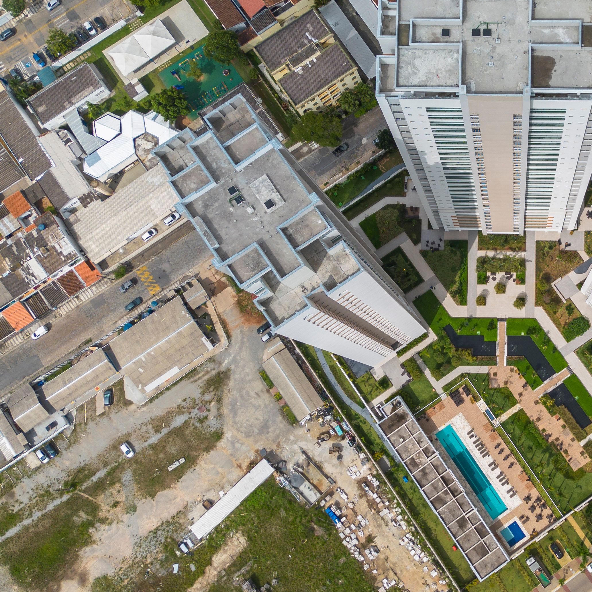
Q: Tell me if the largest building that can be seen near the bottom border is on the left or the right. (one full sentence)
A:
You can find the largest building that can be seen near the bottom border on the right side of the picture.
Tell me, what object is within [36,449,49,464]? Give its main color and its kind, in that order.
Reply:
white vehicle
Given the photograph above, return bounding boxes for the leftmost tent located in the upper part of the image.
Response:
[109,36,153,79]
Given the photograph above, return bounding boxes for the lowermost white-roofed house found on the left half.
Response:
[184,458,278,539]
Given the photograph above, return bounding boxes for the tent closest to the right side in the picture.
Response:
[133,18,179,64]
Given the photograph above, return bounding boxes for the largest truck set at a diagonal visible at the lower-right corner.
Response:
[526,555,552,589]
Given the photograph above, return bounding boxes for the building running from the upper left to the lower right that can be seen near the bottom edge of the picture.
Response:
[376,395,510,581]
